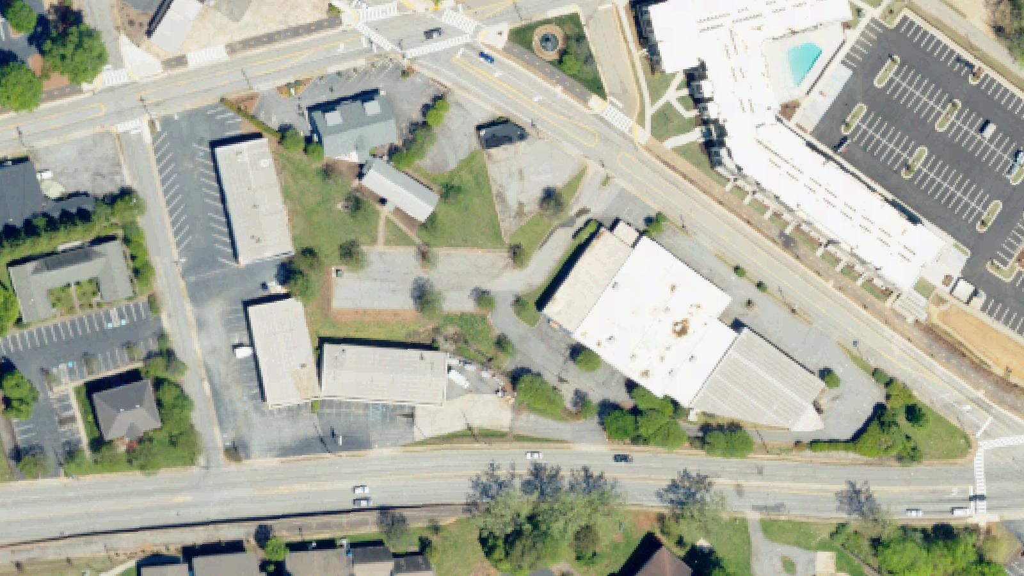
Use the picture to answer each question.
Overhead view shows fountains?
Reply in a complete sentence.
Yes, there's a fountain here.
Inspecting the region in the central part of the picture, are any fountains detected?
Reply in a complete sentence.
No, I can find no fountain in the central part of the picture.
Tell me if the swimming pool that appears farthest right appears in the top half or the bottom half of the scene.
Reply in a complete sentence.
Seen from above, the swimming pool that appears farthest right lies in the top half of the view.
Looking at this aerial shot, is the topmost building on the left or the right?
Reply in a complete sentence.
The topmost building sits on the left side.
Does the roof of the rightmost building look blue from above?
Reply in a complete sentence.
No, from above the roof of the rightmost building looks white.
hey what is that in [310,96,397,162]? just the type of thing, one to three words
building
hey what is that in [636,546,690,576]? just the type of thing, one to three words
house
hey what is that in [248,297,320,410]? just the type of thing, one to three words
building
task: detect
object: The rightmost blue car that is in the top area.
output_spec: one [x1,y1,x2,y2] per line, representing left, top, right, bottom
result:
[479,52,494,64]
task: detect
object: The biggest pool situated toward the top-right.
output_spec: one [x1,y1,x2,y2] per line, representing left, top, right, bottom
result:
[786,40,825,90]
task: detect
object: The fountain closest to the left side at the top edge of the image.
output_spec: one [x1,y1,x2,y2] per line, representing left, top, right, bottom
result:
[534,26,567,59]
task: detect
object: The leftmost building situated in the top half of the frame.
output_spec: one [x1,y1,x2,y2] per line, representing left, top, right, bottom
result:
[0,161,45,227]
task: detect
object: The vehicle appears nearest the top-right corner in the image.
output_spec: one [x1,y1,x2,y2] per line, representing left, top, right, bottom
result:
[982,122,995,138]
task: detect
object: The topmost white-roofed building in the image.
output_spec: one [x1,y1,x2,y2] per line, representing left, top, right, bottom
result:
[149,0,209,55]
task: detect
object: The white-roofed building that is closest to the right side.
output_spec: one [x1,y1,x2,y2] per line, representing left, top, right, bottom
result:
[950,279,974,303]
